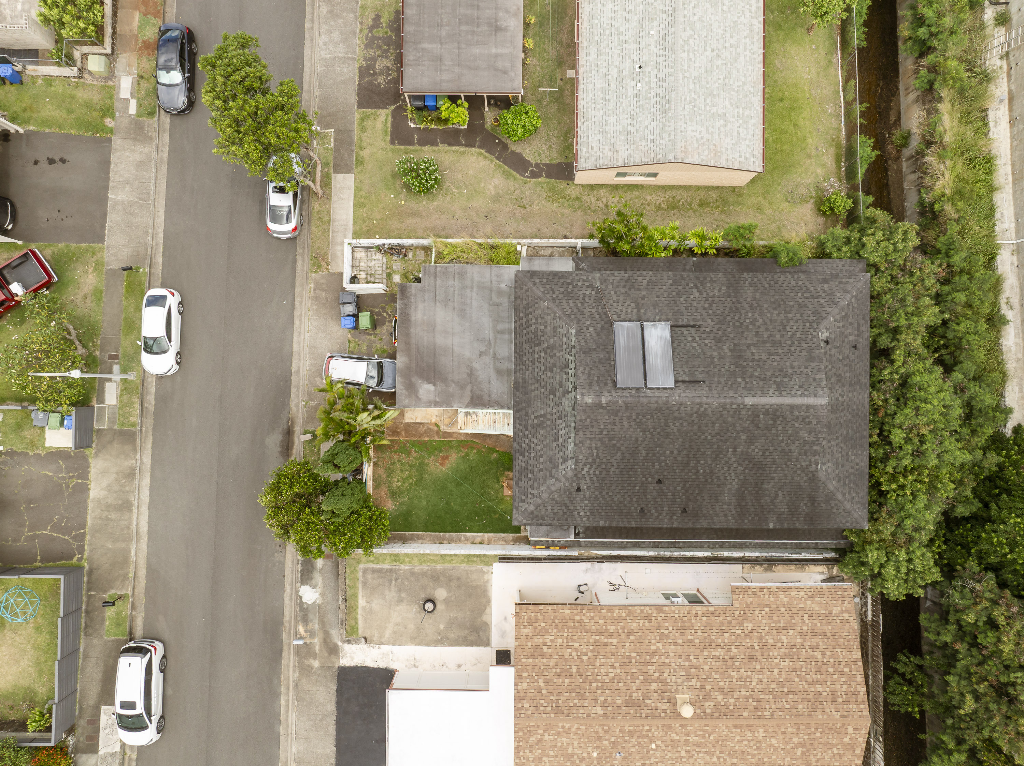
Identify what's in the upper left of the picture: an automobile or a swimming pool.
automobile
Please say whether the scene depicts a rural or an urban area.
urban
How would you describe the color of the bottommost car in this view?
white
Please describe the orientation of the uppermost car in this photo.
vertically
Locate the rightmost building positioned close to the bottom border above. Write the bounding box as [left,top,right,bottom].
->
[515,573,871,766]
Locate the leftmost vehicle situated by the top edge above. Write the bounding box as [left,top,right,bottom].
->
[148,25,195,116]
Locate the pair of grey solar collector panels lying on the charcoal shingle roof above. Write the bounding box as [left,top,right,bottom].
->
[597,286,705,387]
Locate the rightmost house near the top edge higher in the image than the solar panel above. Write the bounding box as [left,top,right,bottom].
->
[570,0,766,184]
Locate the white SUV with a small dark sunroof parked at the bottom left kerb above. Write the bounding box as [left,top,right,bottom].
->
[106,639,160,742]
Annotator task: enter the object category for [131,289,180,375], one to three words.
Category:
car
